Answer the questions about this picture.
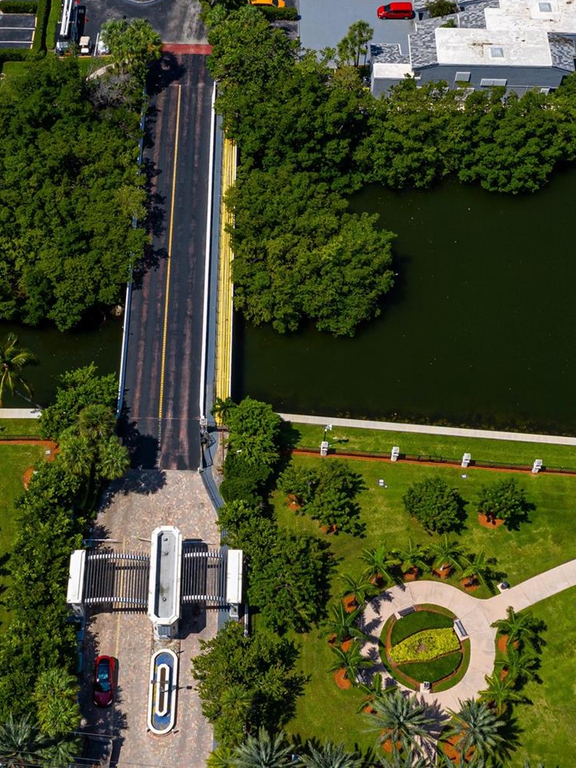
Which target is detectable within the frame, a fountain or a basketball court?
fountain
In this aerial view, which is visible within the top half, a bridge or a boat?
bridge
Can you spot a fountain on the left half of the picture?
Yes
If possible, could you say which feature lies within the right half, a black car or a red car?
red car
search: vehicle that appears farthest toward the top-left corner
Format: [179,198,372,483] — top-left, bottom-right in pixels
[55,0,80,45]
